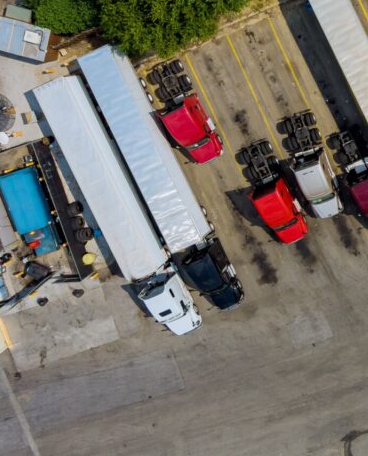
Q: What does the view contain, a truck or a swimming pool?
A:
truck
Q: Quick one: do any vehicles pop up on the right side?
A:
Yes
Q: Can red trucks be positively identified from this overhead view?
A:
Yes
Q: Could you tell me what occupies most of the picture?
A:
paved ground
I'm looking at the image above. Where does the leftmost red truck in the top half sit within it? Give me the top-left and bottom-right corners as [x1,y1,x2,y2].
[147,57,224,161]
